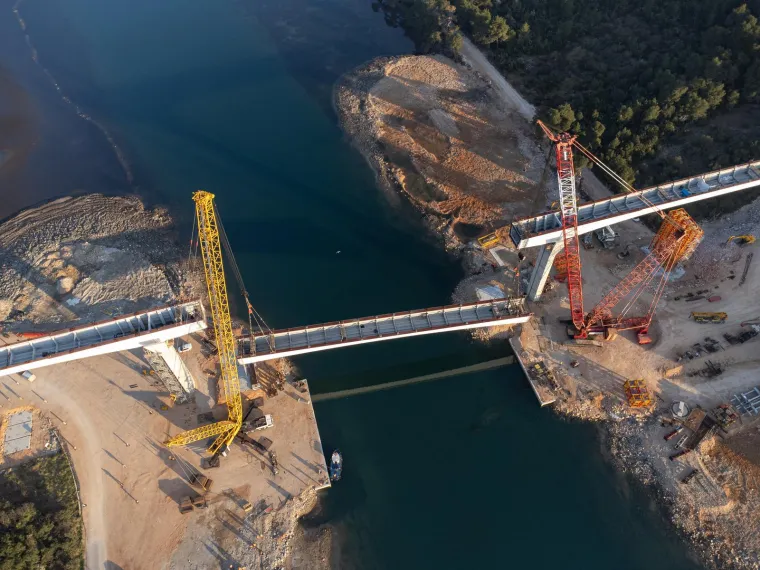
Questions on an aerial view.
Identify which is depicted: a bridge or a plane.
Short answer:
bridge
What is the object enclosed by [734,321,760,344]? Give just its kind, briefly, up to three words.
truck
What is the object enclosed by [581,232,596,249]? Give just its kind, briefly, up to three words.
vehicle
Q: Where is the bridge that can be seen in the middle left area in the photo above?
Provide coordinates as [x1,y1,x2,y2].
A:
[0,298,210,387]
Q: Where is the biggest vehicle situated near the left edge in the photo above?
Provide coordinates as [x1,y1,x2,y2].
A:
[17,370,36,384]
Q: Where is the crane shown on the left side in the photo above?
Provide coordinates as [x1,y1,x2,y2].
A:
[163,189,278,494]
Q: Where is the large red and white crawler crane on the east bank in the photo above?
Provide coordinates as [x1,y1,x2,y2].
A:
[476,131,687,344]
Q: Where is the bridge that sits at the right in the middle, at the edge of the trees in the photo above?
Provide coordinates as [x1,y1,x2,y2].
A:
[508,162,760,297]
